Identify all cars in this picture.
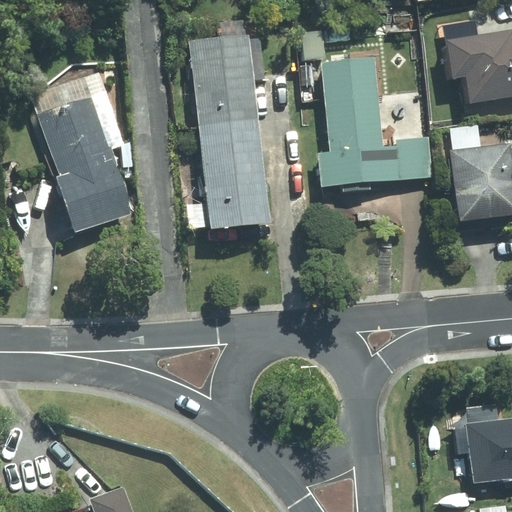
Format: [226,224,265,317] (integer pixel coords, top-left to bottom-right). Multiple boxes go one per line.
[74,466,102,494]
[256,86,268,116]
[285,132,300,162]
[258,223,270,245]
[274,76,288,106]
[22,460,36,490]
[209,228,237,242]
[496,4,512,20]
[35,454,53,486]
[174,396,202,416]
[496,242,512,255]
[1,427,24,460]
[4,462,22,491]
[290,164,304,192]
[487,334,512,348]
[46,440,73,468]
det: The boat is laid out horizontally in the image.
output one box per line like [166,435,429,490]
[430,494,474,508]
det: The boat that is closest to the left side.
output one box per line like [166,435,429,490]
[10,188,30,239]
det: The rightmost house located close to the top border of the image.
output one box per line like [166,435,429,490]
[440,22,512,110]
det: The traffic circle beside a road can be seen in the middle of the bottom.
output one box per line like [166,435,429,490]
[250,357,342,447]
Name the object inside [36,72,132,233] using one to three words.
house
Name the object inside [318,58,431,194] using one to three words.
house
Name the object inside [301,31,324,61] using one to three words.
shed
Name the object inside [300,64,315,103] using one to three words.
vehicle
